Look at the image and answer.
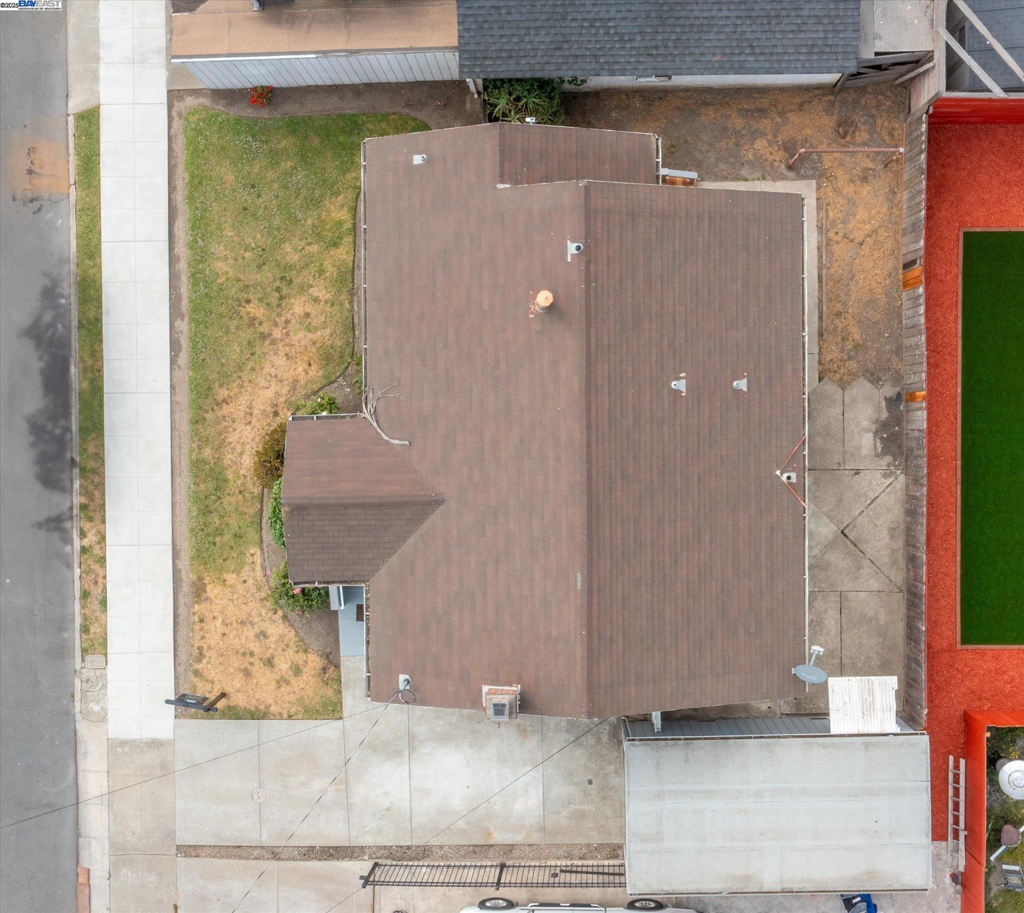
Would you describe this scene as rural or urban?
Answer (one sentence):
The land in this view is best described as urban.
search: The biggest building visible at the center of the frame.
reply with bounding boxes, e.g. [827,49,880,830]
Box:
[282,121,811,719]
